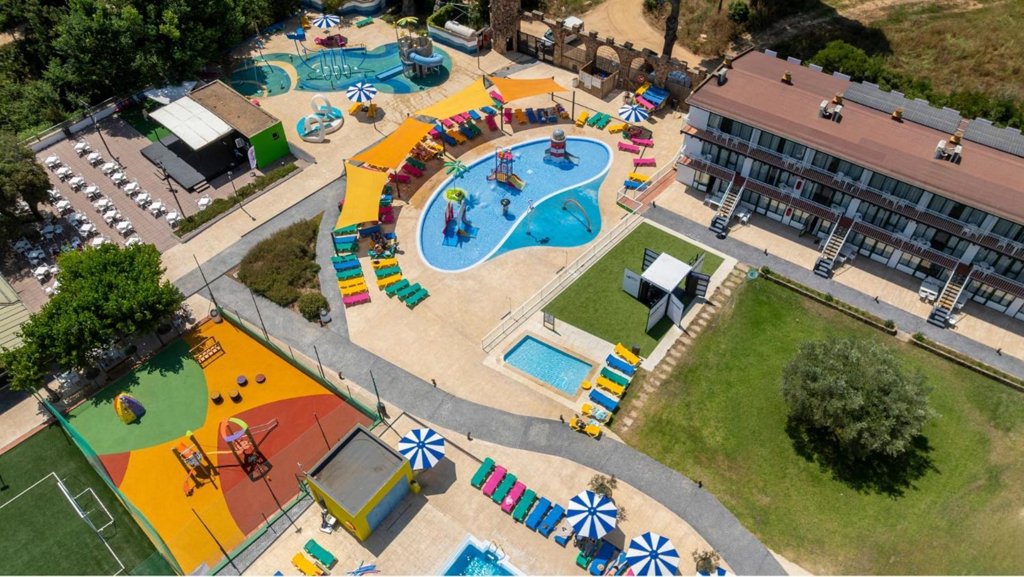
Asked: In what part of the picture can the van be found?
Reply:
top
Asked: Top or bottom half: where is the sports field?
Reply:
bottom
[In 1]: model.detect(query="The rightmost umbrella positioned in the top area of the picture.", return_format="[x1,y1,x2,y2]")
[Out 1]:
[618,108,648,133]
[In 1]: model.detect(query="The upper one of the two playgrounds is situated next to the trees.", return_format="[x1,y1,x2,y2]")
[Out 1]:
[61,339,210,455]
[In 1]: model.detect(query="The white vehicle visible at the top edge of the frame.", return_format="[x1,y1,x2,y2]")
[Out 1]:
[542,14,586,46]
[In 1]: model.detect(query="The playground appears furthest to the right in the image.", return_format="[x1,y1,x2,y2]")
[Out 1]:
[217,394,378,536]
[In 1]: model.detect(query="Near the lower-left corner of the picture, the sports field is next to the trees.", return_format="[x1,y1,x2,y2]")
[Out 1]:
[0,421,182,577]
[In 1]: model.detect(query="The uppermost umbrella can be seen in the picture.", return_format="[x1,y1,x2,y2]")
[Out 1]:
[314,18,341,45]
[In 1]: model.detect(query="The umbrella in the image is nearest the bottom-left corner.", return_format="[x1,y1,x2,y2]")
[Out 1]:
[400,432,445,473]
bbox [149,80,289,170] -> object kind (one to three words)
building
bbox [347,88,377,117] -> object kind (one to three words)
umbrella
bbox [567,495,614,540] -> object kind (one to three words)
umbrella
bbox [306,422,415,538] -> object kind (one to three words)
shed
